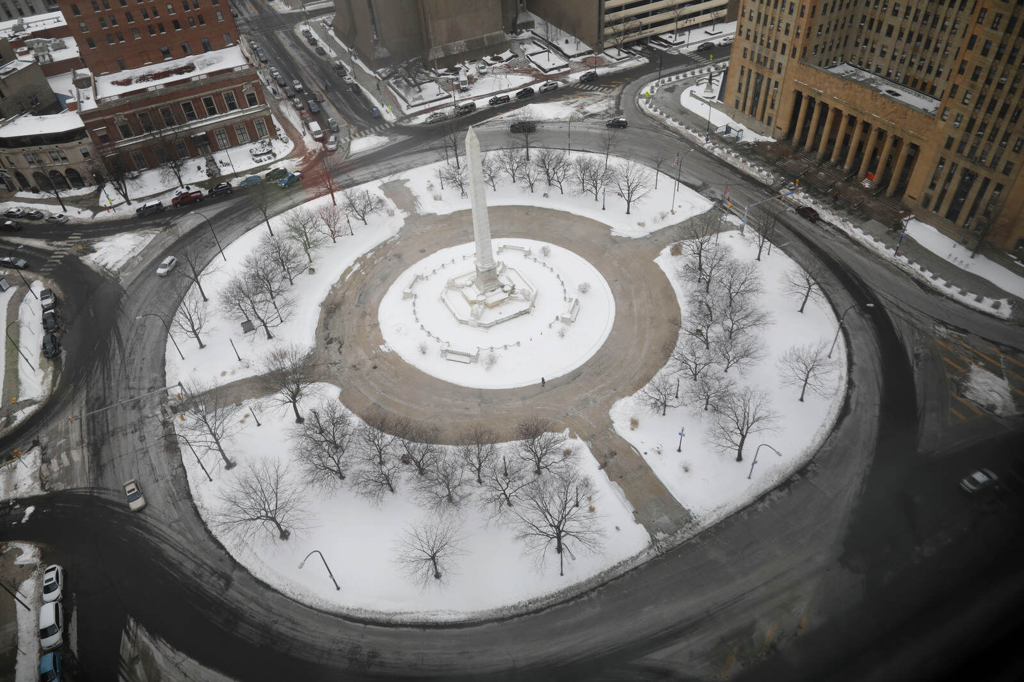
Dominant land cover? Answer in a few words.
paved ground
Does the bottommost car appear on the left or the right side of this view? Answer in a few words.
left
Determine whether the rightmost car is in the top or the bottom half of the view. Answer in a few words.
bottom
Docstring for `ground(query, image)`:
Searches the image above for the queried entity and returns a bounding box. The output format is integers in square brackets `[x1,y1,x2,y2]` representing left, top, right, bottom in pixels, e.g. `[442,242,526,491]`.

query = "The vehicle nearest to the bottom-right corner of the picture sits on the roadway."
[958,466,1004,492]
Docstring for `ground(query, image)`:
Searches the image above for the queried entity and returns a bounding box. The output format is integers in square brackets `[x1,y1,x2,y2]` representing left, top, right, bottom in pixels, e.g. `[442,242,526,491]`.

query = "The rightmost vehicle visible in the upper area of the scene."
[795,200,822,221]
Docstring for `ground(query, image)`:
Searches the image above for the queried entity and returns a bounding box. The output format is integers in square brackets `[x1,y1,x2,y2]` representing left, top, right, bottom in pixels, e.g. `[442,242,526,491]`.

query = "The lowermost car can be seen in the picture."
[34,642,61,682]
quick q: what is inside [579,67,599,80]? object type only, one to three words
vehicle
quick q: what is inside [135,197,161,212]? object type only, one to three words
car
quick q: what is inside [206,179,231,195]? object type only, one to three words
car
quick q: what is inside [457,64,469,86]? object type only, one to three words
vehicle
